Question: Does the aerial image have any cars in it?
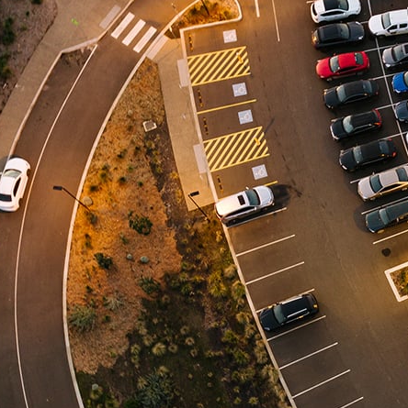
Yes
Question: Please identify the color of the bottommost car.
black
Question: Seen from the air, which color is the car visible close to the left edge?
white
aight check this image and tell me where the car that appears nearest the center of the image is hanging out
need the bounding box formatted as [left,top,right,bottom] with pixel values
[213,184,277,223]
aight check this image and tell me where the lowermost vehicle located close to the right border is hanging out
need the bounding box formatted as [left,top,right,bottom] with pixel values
[363,196,408,233]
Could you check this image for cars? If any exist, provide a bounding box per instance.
[338,137,398,171]
[393,99,408,125]
[213,184,277,223]
[391,67,408,97]
[356,164,408,199]
[0,157,32,213]
[311,17,366,50]
[310,0,362,23]
[323,76,380,108]
[328,107,384,142]
[363,196,408,233]
[258,292,322,330]
[381,41,408,70]
[315,50,371,81]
